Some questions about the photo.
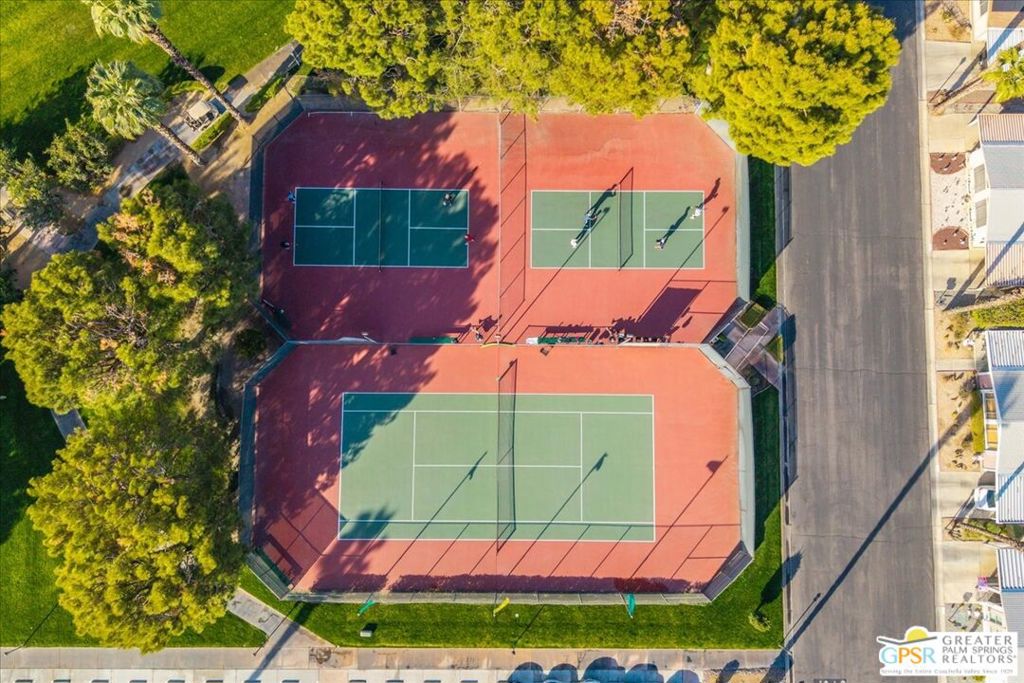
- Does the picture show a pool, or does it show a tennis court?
tennis court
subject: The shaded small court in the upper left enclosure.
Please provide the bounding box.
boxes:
[263,112,499,343]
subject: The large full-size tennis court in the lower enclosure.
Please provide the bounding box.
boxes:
[255,344,742,593]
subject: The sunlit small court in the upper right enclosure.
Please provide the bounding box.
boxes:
[500,112,737,343]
